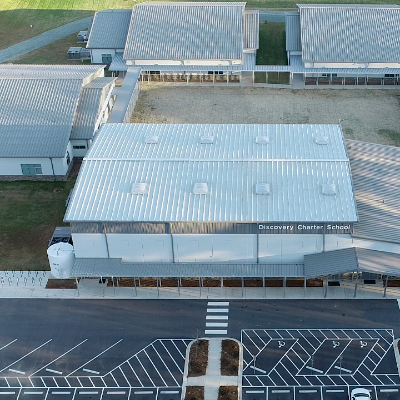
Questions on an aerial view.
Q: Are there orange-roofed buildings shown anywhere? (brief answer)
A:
No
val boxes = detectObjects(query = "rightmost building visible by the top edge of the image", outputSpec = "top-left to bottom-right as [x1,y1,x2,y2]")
[286,4,400,82]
